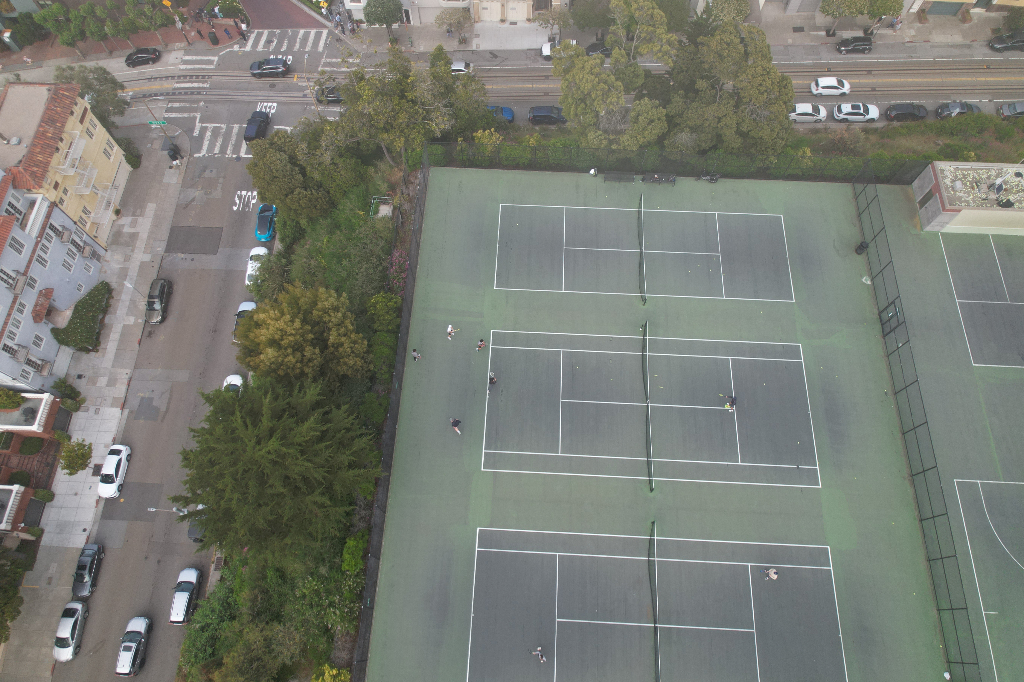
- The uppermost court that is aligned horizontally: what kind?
tennis court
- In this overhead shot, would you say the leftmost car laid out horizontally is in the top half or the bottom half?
top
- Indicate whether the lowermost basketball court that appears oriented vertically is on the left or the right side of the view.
right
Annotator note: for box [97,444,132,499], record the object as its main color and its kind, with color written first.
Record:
white car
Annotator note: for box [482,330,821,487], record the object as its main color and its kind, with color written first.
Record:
gray tennis court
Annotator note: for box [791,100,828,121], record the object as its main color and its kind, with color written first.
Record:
white car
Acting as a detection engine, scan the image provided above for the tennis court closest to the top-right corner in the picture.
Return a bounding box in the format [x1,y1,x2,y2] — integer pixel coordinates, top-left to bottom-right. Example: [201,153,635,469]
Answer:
[940,233,1024,369]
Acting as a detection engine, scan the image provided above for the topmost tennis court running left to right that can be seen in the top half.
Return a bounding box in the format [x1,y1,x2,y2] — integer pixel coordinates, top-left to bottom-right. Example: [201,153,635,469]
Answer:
[494,203,795,302]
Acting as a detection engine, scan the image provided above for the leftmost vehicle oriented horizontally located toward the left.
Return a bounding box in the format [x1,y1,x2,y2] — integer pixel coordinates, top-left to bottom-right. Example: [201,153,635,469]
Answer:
[120,45,163,67]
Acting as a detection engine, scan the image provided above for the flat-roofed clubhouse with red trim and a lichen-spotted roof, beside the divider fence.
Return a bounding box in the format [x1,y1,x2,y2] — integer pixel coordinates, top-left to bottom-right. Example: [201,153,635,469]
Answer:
[911,161,1024,236]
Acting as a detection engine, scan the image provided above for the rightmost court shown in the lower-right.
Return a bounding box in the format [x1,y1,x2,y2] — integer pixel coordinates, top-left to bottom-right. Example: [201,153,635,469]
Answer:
[955,476,1024,682]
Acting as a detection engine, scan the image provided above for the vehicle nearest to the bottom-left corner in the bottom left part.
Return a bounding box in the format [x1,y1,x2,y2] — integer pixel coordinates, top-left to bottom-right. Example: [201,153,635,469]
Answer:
[52,603,89,663]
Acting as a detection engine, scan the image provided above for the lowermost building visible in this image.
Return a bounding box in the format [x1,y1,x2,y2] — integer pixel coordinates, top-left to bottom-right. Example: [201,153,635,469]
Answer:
[0,486,32,535]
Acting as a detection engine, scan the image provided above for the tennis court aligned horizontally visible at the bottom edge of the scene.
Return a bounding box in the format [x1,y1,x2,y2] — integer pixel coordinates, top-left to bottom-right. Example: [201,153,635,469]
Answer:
[467,528,848,682]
